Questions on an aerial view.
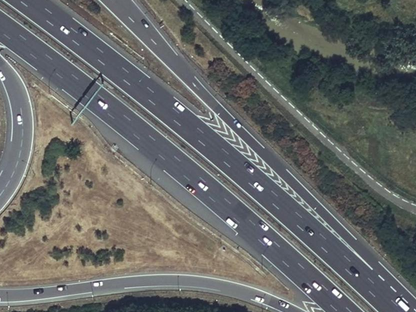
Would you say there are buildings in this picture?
No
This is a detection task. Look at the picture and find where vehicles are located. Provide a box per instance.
[396,296,410,310]
[225,216,238,228]
[312,281,322,290]
[78,27,88,36]
[259,220,268,230]
[33,288,44,294]
[196,180,208,190]
[60,25,70,34]
[97,98,108,108]
[331,288,342,298]
[262,236,272,244]
[174,101,186,112]
[253,180,264,190]
[305,226,314,235]
[93,281,103,286]
[56,284,66,290]
[302,283,311,292]
[17,114,22,124]
[254,295,264,302]
[140,18,150,28]
[350,266,360,276]
[0,70,5,80]
[184,182,196,192]
[234,118,242,128]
